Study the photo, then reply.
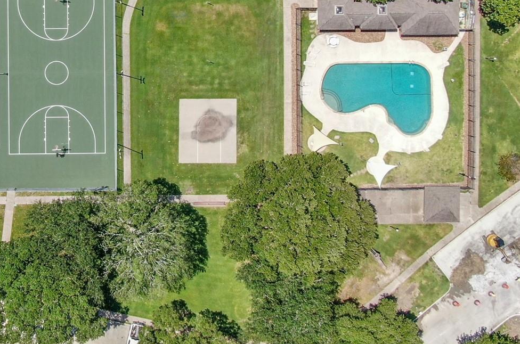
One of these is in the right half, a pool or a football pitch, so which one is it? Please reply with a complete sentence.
There is a pool in the right half.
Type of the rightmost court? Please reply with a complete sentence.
The rightmost court can be classified as a basketball court.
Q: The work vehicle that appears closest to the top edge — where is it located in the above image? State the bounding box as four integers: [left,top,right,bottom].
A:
[482,228,509,260]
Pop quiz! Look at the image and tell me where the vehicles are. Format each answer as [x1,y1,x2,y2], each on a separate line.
[482,228,509,260]
[129,321,146,344]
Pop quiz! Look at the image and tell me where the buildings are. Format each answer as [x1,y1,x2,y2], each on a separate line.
[318,0,461,35]
[418,184,460,223]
